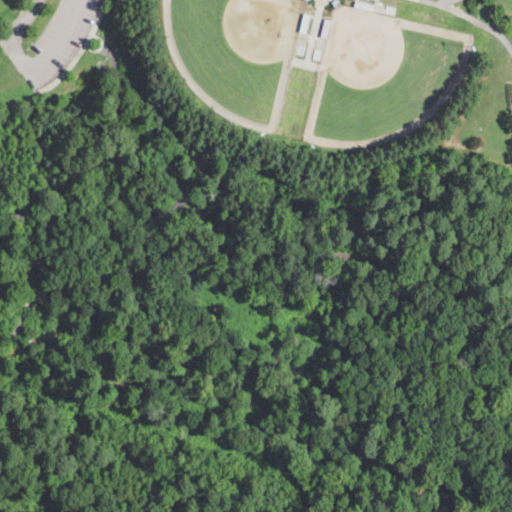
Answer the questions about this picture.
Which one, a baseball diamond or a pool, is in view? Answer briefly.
baseball diamond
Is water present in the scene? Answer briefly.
No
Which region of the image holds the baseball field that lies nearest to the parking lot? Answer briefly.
top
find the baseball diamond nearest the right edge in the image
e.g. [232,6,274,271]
[305,8,474,150]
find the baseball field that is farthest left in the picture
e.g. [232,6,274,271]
[163,0,306,134]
